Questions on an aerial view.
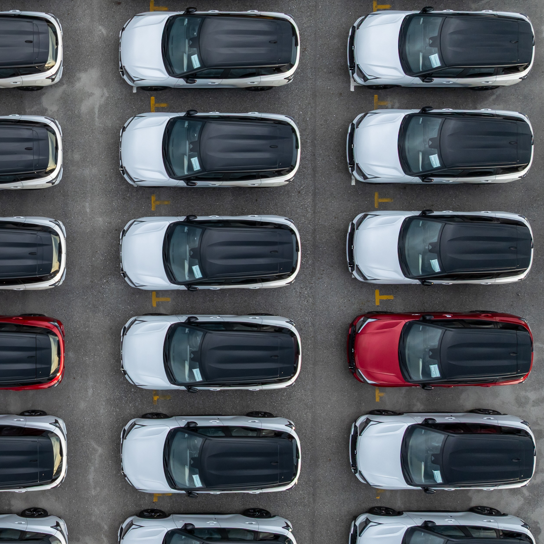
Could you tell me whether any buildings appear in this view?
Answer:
No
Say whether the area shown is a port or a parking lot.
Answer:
parking lot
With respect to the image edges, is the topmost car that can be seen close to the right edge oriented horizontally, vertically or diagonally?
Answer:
horizontally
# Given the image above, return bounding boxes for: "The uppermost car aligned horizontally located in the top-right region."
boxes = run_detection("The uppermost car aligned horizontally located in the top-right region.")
[347,2,536,92]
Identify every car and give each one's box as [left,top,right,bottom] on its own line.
[345,311,534,394]
[345,102,534,185]
[0,216,66,291]
[345,205,534,288]
[119,107,301,190]
[0,11,62,92]
[349,505,537,544]
[347,2,536,92]
[119,211,301,294]
[118,510,297,544]
[118,3,299,92]
[0,314,65,390]
[120,412,302,501]
[0,116,63,191]
[0,411,67,491]
[0,508,68,544]
[120,313,302,396]
[349,408,537,497]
